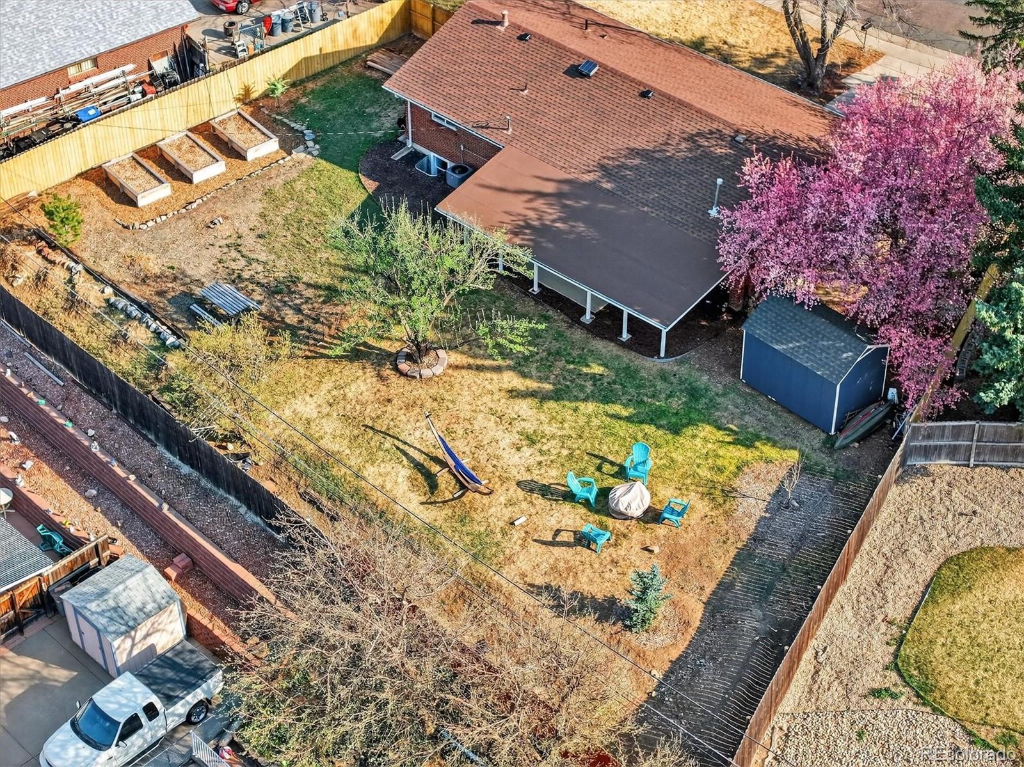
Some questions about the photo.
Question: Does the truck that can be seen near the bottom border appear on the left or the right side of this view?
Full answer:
The truck that can be seen near the bottom border sits on the left side.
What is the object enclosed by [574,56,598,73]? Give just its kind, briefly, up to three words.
solar panel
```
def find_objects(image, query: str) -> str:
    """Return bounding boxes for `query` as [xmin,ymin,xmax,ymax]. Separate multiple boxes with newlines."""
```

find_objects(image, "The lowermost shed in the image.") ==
[62,564,186,678]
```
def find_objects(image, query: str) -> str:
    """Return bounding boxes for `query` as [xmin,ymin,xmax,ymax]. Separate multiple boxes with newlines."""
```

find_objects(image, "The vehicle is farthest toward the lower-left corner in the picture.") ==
[33,640,232,767]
